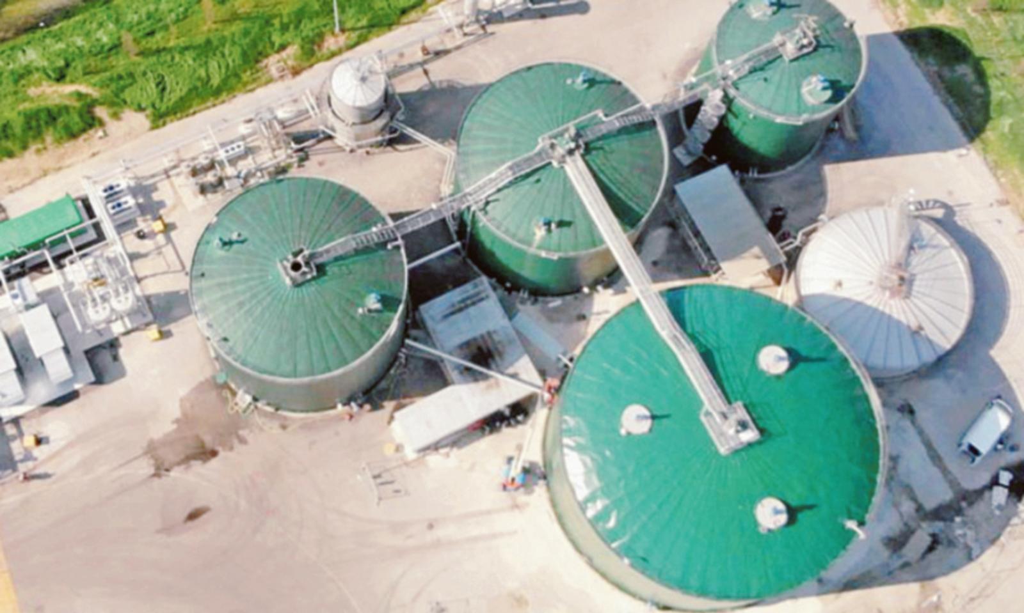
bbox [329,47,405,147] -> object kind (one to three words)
storage tank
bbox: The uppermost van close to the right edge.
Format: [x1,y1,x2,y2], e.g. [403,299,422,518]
[954,397,1014,466]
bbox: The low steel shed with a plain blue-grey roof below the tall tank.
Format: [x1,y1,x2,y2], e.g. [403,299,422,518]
[671,164,786,284]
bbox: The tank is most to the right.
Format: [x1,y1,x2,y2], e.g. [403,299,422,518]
[785,194,976,382]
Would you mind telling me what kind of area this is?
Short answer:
industrial area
